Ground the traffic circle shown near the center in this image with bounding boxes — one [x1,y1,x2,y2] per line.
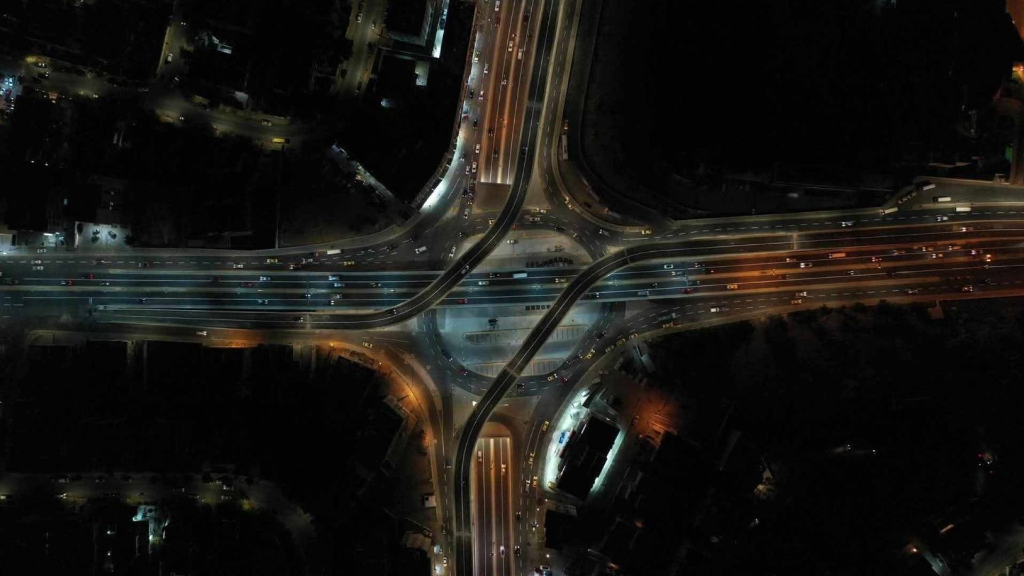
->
[417,209,624,398]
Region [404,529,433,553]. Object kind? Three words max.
house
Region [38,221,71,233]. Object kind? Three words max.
building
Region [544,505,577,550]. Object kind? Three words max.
building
